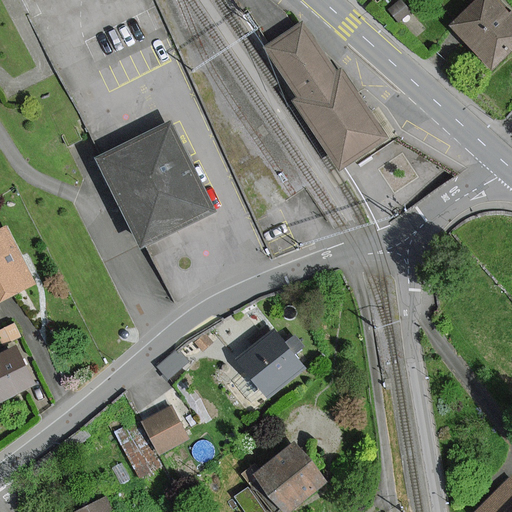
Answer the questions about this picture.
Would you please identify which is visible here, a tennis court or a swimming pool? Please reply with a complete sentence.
Looking from above, you can make out a swimming pool.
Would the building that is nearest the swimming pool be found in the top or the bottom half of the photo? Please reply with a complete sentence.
The bottom half of the photo is where the building that is nearest the swimming pool is.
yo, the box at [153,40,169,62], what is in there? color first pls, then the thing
white car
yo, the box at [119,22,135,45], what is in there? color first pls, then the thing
white car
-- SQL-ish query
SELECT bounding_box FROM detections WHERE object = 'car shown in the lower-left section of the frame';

[32,380,45,401]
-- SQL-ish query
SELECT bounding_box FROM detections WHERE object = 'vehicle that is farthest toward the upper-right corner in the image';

[264,224,288,240]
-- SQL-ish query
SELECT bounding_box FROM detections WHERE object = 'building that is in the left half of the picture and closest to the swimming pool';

[141,406,190,456]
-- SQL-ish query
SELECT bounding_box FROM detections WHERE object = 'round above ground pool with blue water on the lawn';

[189,440,215,464]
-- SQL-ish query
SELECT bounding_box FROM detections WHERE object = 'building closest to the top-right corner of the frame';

[450,0,512,70]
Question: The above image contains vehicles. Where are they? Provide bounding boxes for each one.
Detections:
[119,22,135,45]
[264,224,288,240]
[206,186,222,208]
[127,17,144,40]
[106,26,124,50]
[194,163,208,182]
[153,40,169,62]
[32,380,45,401]
[96,32,113,54]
